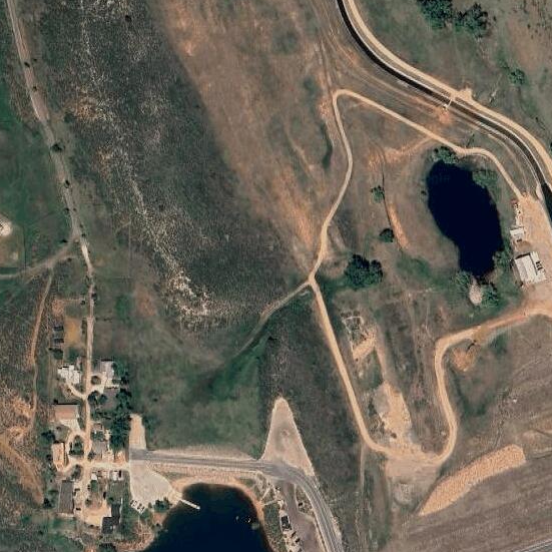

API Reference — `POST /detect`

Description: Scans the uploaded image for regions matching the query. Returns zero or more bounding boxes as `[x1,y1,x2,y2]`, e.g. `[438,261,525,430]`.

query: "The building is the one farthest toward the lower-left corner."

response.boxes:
[58,480,74,513]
